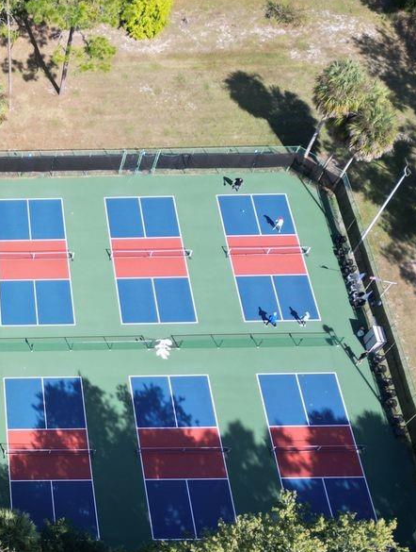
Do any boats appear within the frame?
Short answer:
No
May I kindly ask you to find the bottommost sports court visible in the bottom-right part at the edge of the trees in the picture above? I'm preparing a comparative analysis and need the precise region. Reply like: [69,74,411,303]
[257,372,381,538]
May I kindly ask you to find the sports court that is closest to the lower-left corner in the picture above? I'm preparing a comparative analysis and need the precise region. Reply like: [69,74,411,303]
[2,375,100,541]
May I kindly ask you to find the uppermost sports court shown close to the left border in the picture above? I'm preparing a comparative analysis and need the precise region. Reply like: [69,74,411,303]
[0,197,77,326]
